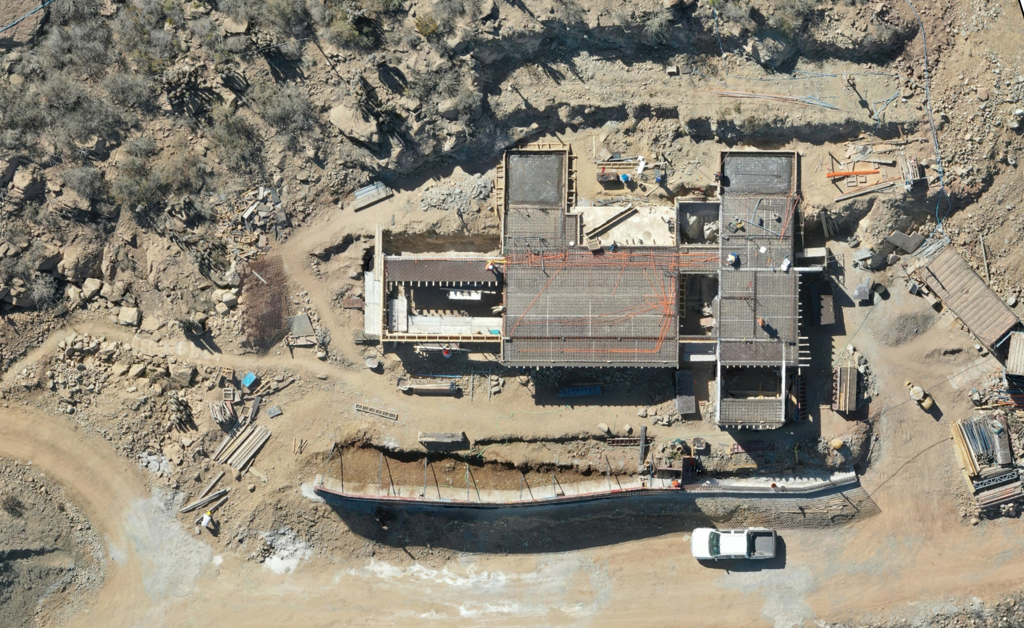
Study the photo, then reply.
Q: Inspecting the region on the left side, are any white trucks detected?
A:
No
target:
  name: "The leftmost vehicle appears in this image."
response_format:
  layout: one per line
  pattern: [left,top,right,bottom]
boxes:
[692,528,778,564]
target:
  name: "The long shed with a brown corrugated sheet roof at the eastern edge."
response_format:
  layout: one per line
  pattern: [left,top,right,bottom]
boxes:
[915,246,1018,348]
